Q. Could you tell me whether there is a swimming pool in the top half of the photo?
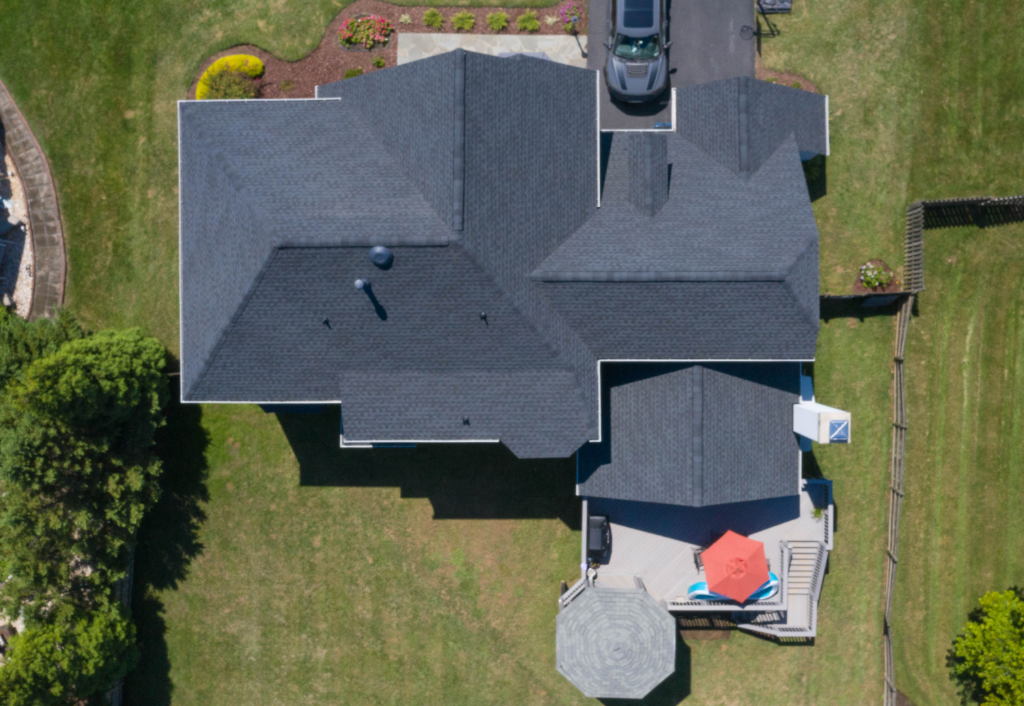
No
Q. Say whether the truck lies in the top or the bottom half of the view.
top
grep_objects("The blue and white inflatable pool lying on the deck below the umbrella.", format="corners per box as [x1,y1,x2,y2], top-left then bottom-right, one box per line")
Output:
[685,570,782,603]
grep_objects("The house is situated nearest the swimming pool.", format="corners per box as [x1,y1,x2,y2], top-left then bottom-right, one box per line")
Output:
[178,48,831,507]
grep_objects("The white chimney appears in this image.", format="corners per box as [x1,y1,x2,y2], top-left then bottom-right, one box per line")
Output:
[794,374,852,450]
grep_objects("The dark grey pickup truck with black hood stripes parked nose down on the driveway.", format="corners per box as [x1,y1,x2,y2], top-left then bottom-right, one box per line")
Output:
[600,0,676,109]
